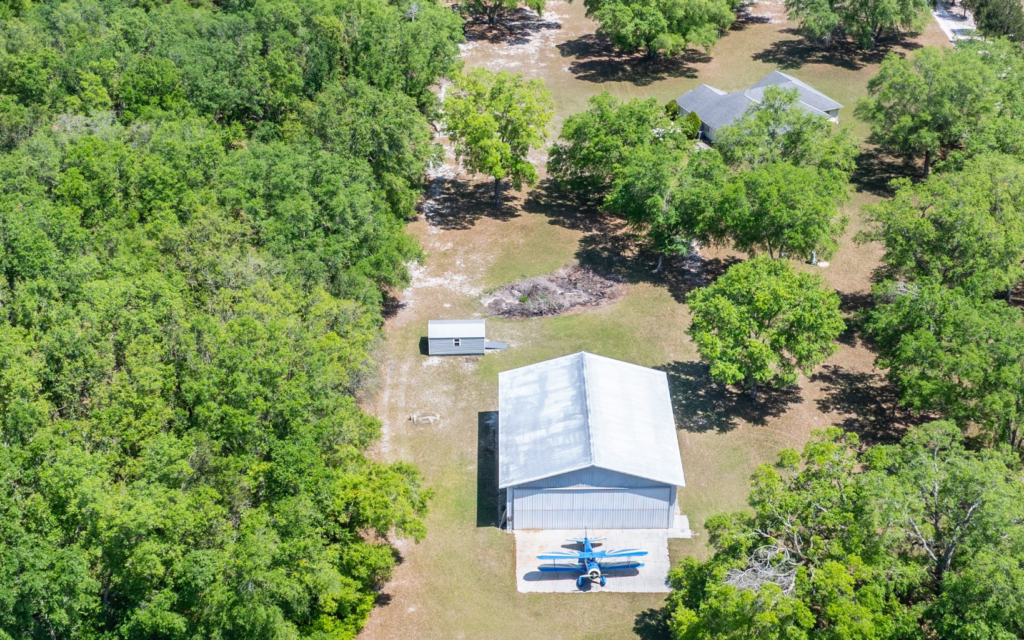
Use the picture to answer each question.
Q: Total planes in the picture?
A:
one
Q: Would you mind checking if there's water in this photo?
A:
No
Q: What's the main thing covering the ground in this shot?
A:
trees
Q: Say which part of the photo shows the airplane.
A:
bottom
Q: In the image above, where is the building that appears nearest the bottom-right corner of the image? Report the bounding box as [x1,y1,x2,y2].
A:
[498,351,685,530]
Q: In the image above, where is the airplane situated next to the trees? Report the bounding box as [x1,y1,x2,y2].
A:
[536,524,648,585]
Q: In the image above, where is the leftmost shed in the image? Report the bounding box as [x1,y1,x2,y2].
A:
[428,321,507,354]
